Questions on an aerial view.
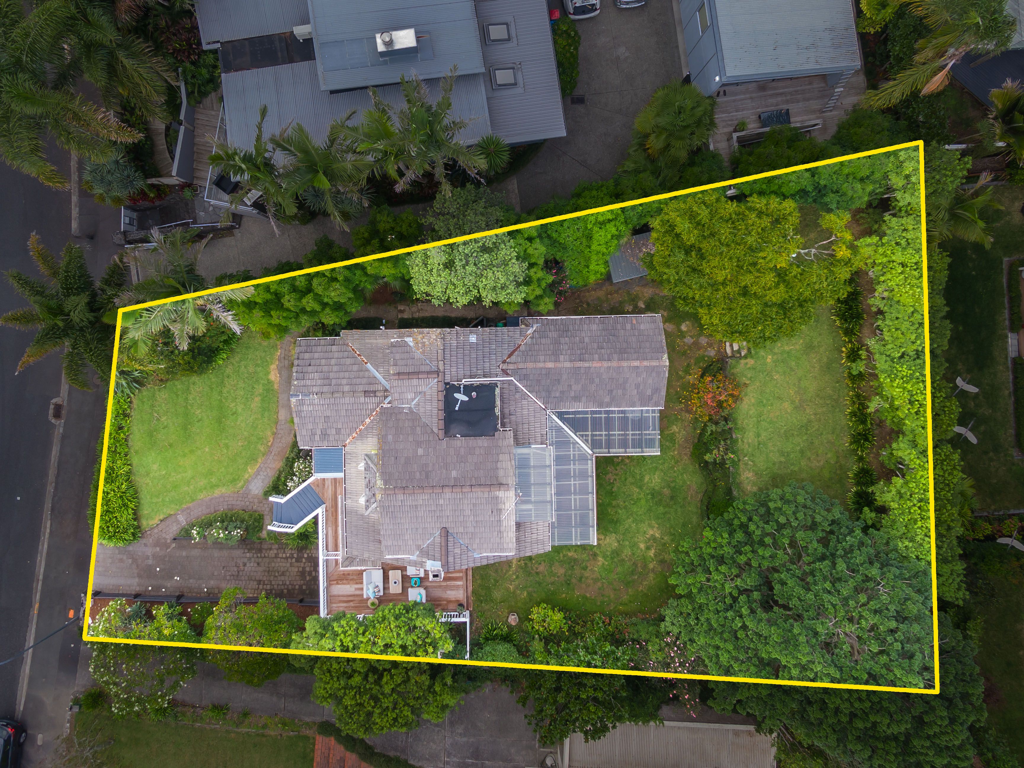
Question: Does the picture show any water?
No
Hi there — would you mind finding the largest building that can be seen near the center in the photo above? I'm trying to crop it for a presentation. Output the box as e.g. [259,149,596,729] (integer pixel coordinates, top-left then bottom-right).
[289,314,670,581]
